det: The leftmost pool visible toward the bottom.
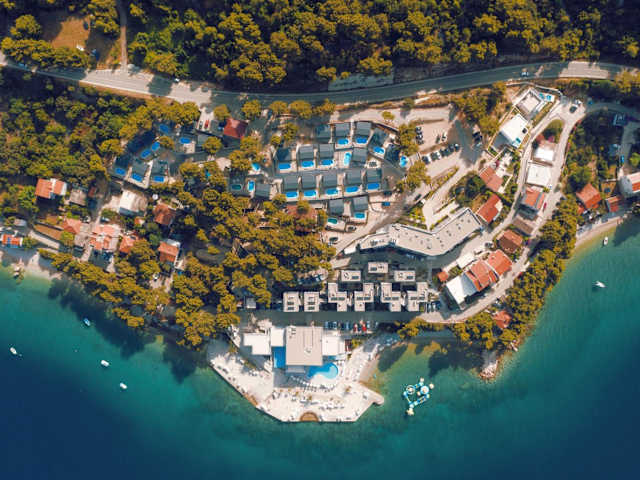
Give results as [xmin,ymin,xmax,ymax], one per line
[272,346,287,368]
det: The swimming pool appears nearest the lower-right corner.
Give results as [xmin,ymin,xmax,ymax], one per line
[306,361,338,379]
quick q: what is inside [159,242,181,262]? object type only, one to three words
house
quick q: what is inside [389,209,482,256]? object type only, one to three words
building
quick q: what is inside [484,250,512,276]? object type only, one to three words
house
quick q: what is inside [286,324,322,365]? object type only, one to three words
building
